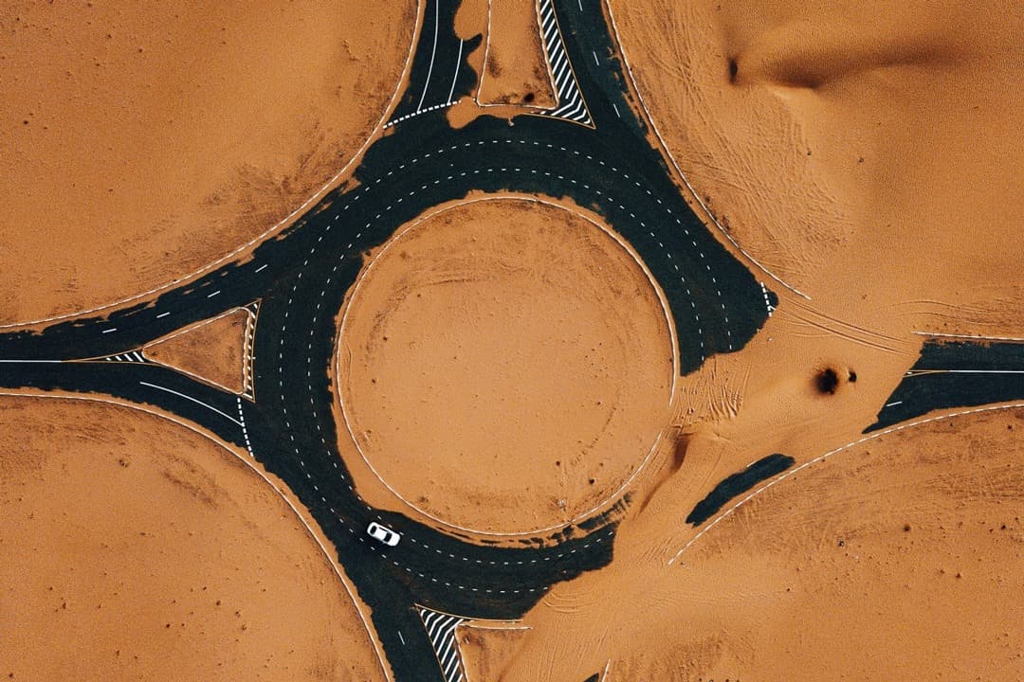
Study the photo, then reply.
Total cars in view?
one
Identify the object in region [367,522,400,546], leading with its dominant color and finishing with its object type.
white car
